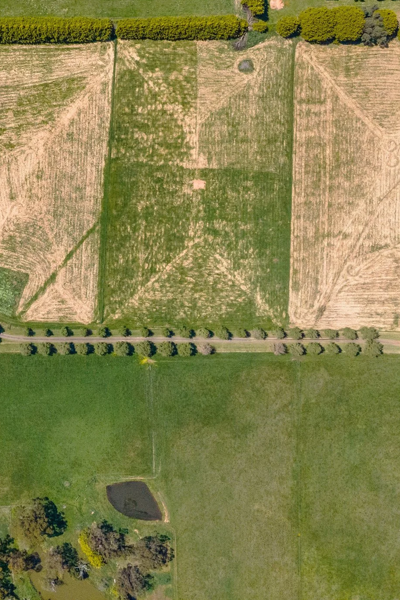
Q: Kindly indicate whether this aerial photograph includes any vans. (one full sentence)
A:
No, no van can be seen from above.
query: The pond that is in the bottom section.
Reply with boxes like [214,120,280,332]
[106,481,163,520]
